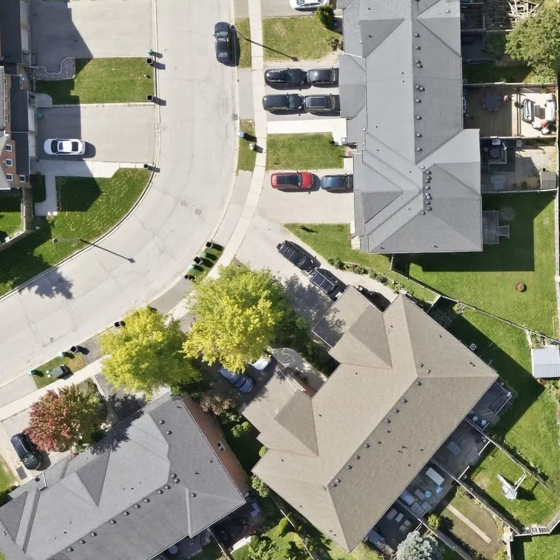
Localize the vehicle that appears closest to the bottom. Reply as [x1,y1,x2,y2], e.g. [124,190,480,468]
[12,429,44,470]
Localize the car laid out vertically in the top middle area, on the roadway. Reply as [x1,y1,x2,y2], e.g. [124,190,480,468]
[212,22,233,64]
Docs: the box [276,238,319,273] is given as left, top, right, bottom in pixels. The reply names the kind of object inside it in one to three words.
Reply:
car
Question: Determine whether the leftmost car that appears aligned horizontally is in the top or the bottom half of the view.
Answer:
top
